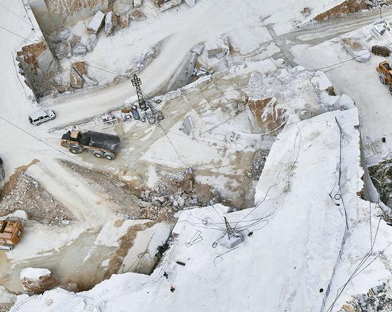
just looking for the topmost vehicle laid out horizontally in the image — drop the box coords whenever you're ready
[24,111,56,128]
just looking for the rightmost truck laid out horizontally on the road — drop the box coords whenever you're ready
[54,130,118,159]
